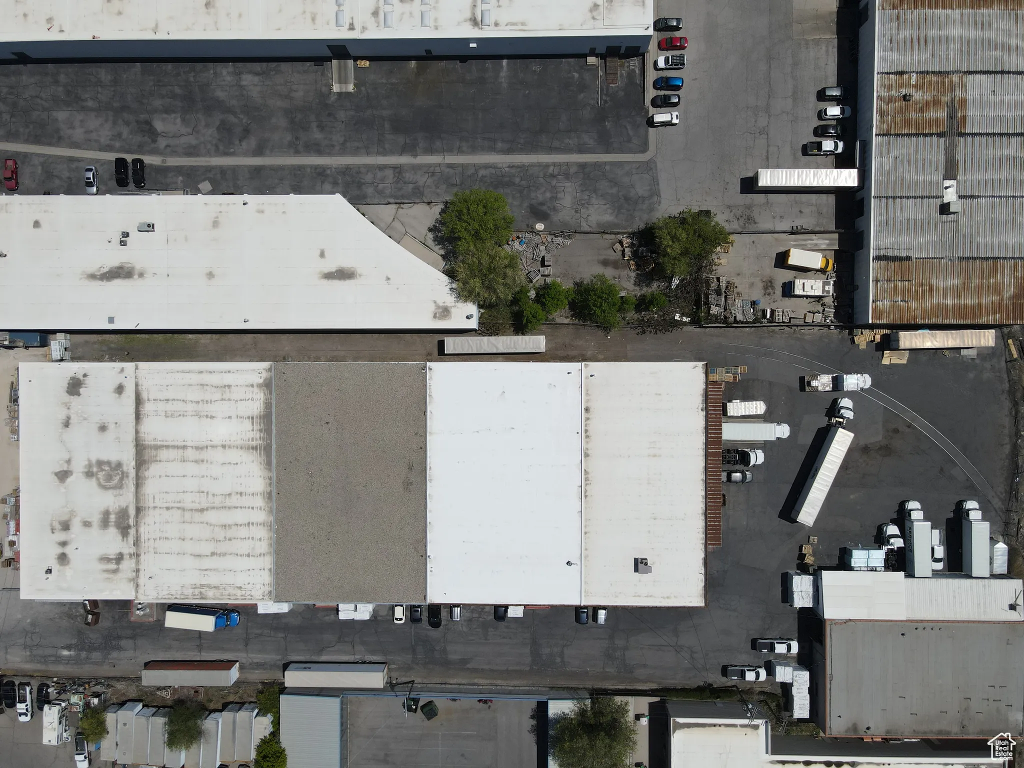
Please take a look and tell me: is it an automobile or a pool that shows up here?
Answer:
automobile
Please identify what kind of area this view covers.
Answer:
industrial area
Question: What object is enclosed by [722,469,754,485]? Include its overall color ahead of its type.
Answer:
gray vehicle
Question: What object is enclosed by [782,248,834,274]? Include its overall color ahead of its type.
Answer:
white truck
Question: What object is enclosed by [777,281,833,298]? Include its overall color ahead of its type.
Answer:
white camper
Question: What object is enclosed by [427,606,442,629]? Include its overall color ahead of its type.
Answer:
black car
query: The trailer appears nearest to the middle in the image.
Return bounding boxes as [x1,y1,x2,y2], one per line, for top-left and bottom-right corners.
[444,335,545,354]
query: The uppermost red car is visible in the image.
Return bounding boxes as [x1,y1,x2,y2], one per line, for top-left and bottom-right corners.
[657,36,688,52]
